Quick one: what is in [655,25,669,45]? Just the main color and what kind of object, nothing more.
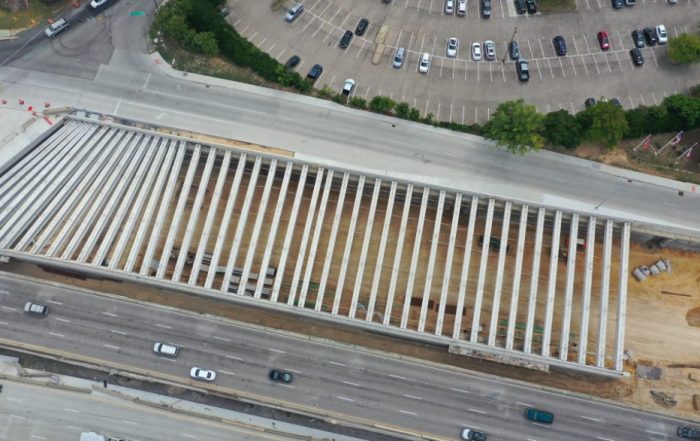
white vehicle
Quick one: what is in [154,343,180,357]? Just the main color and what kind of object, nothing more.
white vehicle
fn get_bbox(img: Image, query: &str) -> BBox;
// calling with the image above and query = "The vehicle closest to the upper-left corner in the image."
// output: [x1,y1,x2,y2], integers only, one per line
[47,18,68,36]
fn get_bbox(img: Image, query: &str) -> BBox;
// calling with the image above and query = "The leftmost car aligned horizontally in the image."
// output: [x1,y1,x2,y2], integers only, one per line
[25,302,49,316]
